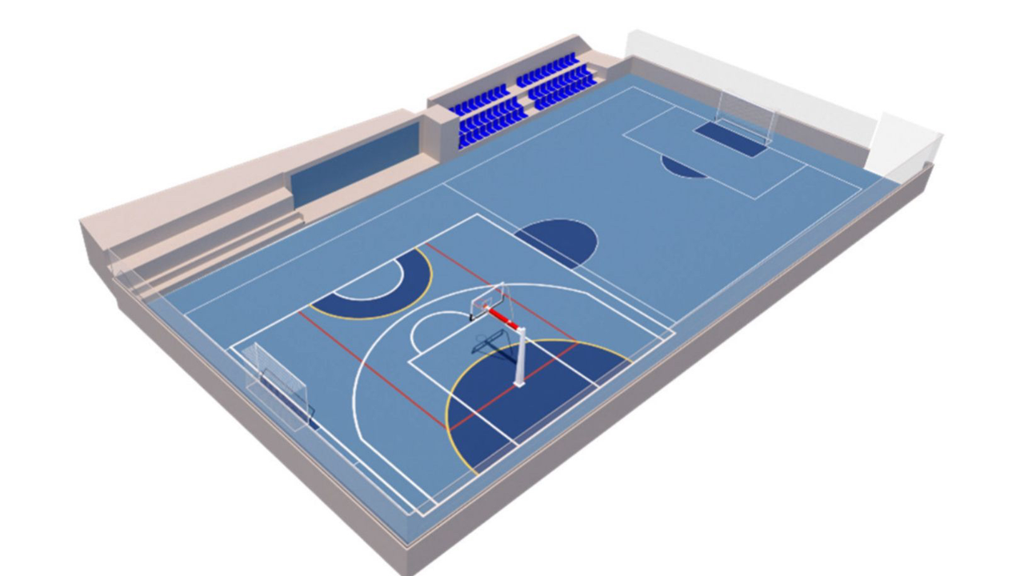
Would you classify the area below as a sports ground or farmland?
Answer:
sports ground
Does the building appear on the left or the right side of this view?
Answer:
left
